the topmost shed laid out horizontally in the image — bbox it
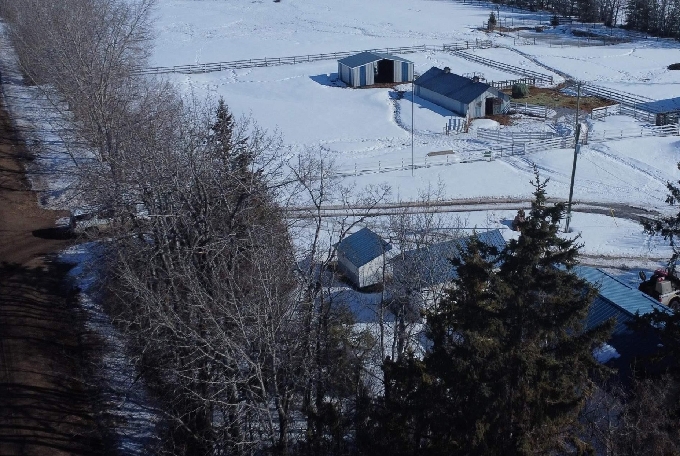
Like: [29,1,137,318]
[338,51,415,87]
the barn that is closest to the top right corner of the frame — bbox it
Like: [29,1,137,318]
[419,66,511,117]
